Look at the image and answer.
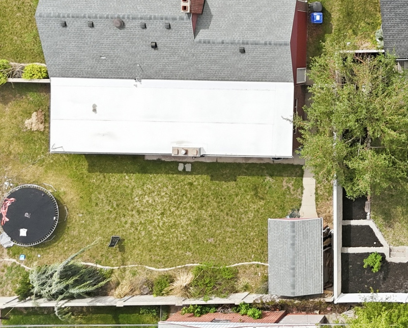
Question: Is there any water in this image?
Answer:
No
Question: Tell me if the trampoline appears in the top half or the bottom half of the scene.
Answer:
bottom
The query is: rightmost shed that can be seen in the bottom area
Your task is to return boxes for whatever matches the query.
[268,217,325,296]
